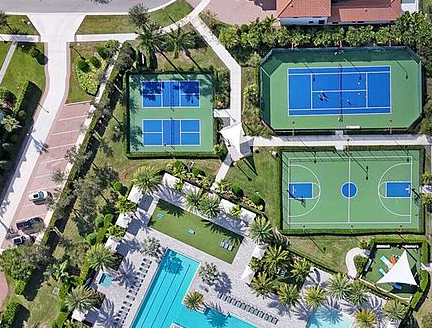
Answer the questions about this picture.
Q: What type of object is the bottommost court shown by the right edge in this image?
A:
basketball court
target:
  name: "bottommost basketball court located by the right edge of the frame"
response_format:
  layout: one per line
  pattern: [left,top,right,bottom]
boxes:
[281,151,420,231]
